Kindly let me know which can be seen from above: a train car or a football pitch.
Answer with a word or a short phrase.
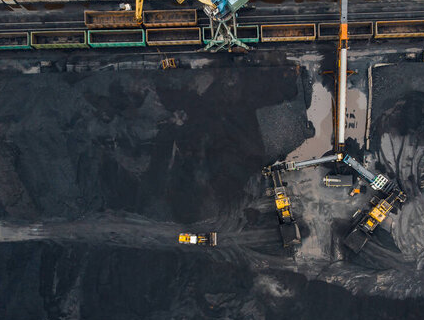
train car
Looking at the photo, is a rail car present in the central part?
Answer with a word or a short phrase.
No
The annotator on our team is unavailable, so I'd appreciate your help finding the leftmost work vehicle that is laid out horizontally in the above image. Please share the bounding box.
[179,232,218,246]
